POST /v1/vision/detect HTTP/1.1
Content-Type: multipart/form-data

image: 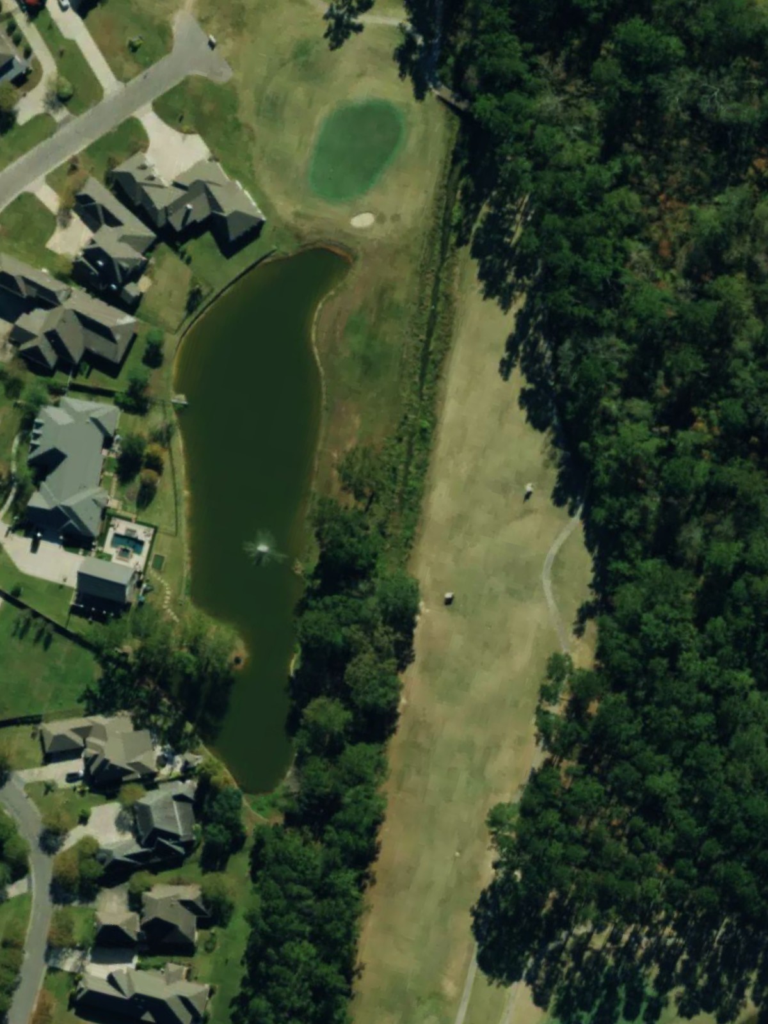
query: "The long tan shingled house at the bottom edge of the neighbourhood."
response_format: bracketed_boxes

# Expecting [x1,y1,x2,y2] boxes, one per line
[74,964,207,1024]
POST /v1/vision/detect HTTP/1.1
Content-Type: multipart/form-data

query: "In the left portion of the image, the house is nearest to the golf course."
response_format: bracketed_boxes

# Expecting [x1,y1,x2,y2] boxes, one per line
[113,150,265,244]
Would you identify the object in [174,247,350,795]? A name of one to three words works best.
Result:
pond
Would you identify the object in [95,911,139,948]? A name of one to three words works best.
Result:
building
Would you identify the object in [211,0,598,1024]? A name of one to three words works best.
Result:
golf course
